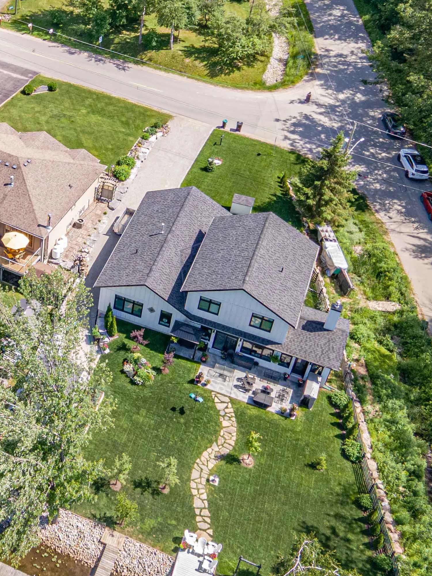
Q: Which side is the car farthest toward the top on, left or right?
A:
right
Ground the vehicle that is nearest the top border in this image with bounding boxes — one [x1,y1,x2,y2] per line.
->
[378,112,414,139]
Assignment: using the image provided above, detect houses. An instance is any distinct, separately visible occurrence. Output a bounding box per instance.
[0,123,102,263]
[93,187,354,397]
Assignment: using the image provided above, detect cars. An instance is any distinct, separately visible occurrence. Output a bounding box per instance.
[418,189,432,220]
[396,147,432,180]
[378,112,414,139]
